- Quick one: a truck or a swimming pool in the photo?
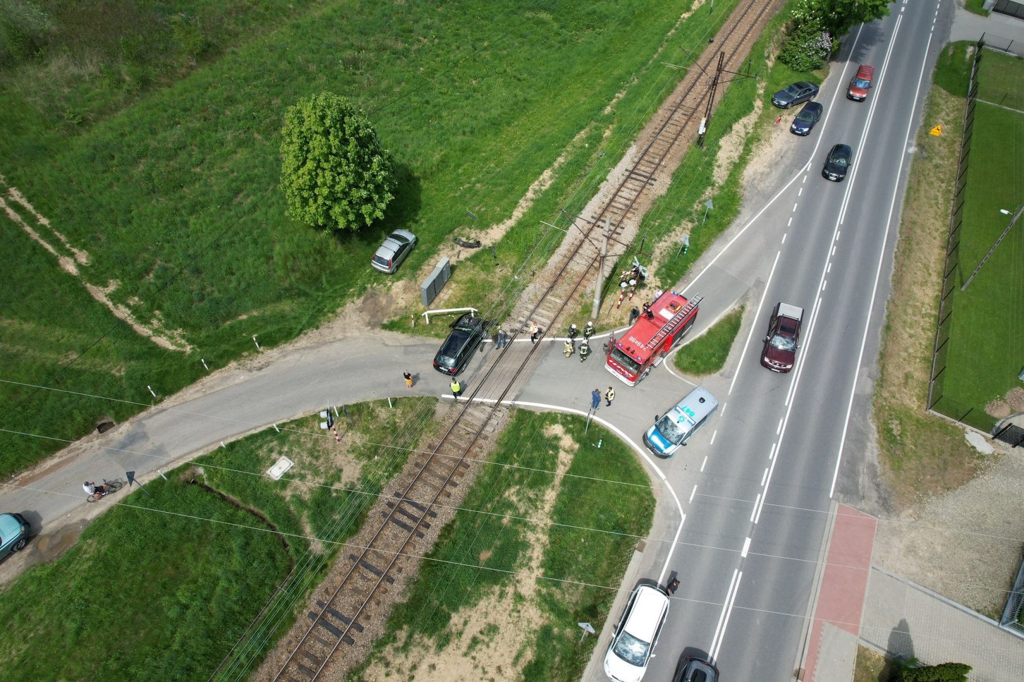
truck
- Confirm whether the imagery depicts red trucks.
Yes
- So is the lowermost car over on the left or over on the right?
right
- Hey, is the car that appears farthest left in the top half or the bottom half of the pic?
bottom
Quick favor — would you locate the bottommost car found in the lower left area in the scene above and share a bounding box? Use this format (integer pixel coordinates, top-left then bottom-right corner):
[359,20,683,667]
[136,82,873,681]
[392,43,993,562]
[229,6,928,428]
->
[0,516,32,563]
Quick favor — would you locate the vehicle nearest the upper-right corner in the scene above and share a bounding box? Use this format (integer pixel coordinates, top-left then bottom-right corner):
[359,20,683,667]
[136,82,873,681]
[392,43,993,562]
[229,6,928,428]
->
[846,64,875,100]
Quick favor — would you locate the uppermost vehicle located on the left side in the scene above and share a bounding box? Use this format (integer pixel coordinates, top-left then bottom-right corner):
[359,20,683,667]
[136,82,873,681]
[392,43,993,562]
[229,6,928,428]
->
[373,228,418,271]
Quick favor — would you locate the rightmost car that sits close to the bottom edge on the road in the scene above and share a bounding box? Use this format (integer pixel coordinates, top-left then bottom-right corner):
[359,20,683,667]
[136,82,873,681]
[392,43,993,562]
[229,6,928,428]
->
[675,650,724,682]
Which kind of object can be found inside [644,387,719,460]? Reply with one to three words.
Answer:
van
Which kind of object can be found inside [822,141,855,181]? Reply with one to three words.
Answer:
car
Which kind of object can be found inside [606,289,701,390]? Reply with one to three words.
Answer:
truck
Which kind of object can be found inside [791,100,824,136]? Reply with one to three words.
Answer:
car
